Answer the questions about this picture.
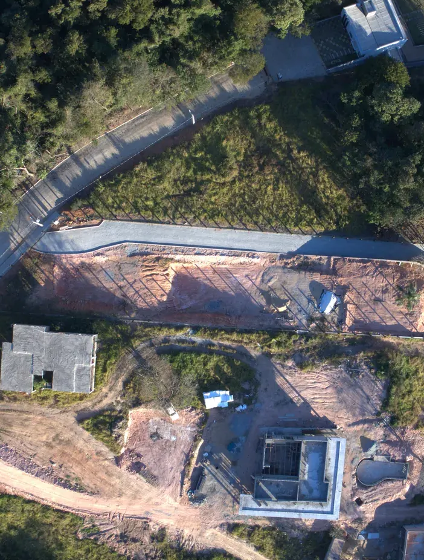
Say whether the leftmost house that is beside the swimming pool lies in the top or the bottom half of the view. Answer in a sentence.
The bottom half of the photo is where the leftmost house that is beside the swimming pool is.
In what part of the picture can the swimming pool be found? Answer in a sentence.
Look in the bottom right portion of the view to spot the swimming pool.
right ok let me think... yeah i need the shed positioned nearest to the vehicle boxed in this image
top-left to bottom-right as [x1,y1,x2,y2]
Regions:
[203,391,234,408]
